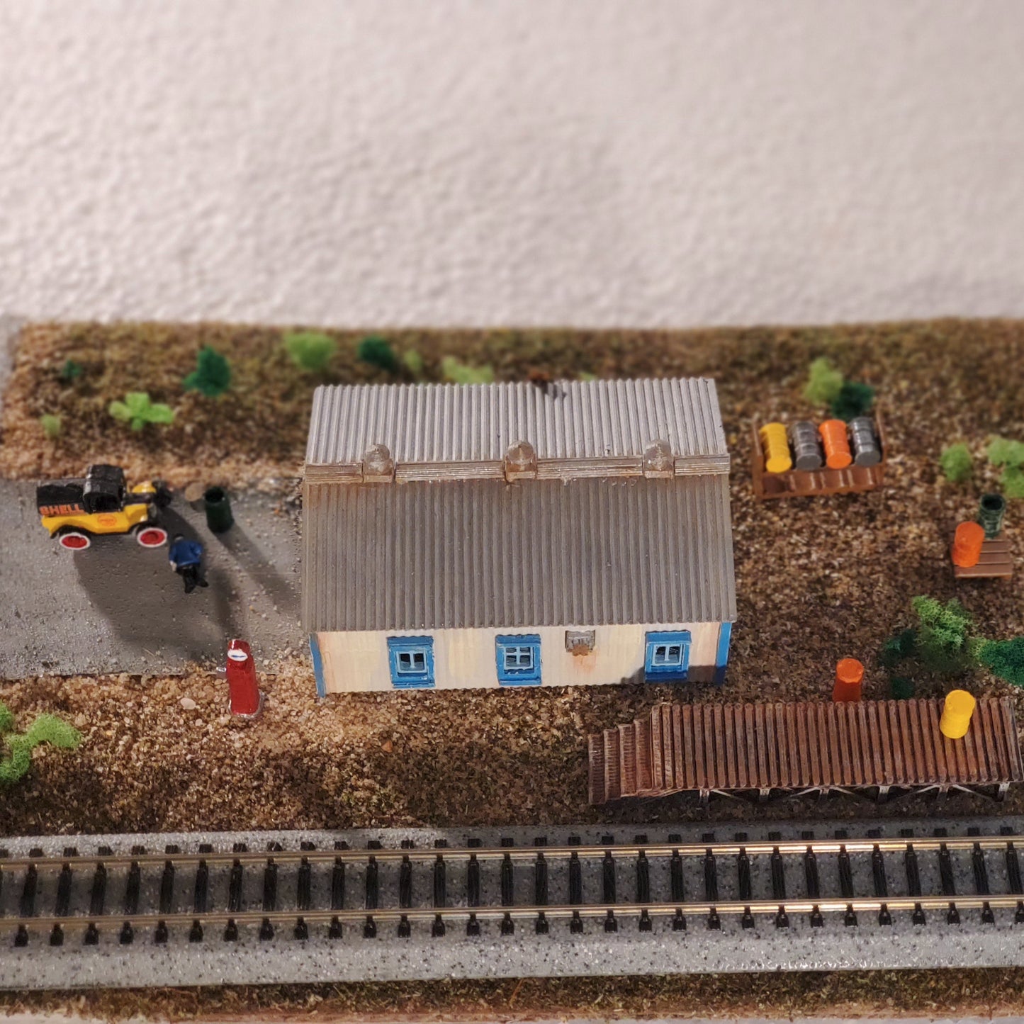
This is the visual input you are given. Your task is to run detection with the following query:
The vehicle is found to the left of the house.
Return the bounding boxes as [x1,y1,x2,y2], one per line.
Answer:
[37,465,172,550]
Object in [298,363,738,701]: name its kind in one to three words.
house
